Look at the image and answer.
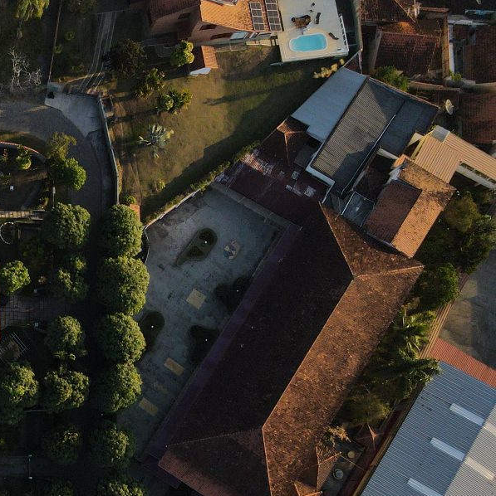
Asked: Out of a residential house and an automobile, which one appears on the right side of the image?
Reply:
residential house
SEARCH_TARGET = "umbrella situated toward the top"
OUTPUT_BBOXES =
[299,9,316,23]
